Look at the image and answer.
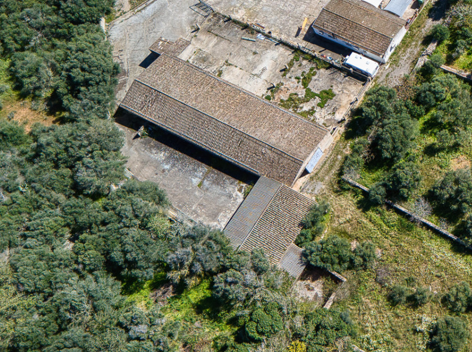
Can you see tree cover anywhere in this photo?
Yes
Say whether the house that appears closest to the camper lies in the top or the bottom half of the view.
top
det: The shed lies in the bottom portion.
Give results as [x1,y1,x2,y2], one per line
[218,175,316,279]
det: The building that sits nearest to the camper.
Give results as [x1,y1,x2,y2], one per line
[312,0,407,63]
